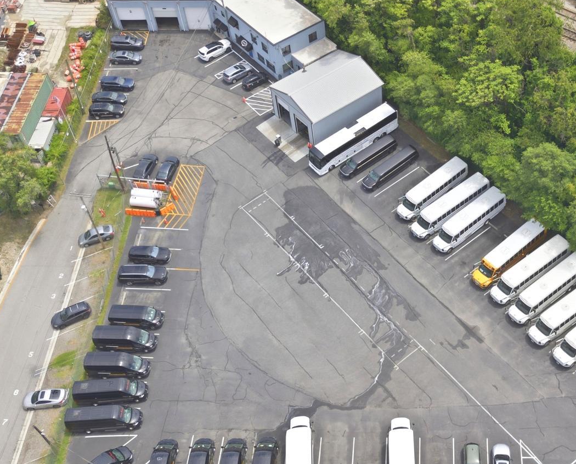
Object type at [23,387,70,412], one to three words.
car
